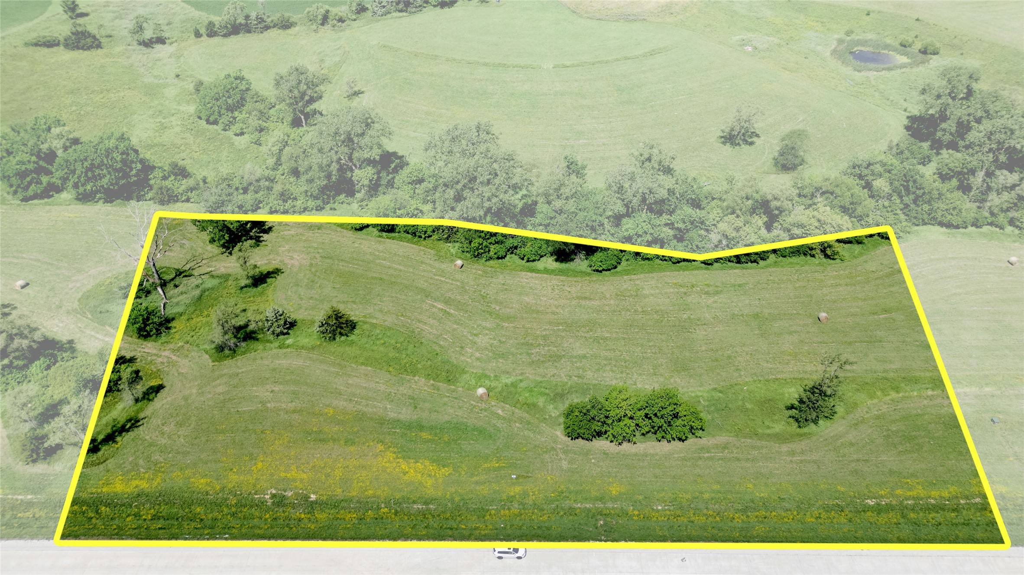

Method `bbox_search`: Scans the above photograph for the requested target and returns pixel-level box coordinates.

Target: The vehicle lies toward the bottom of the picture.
[492,541,527,559]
